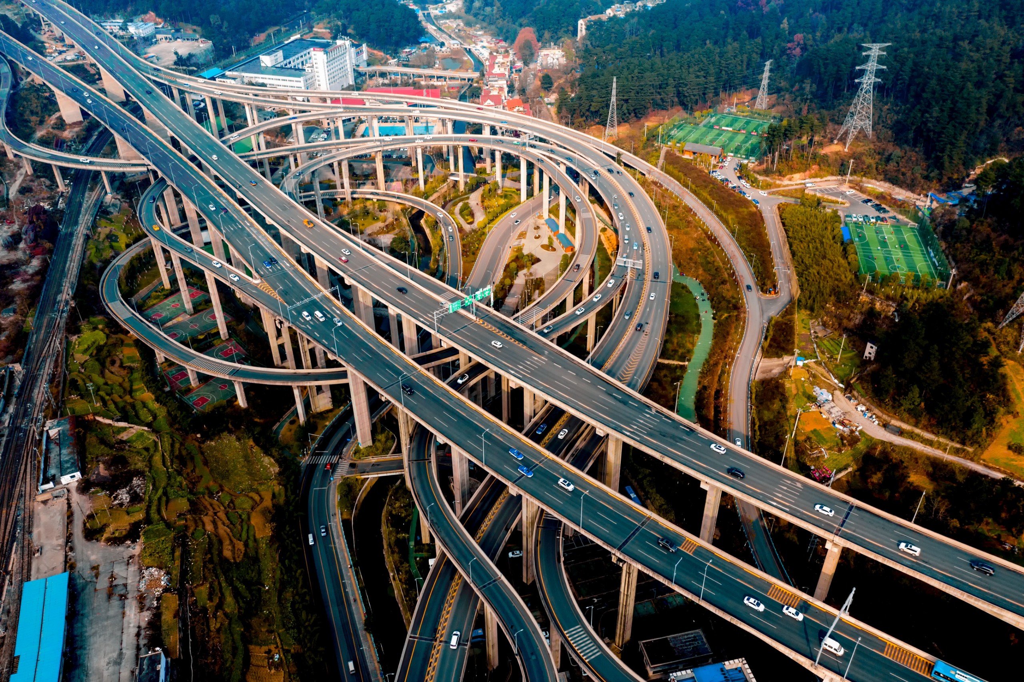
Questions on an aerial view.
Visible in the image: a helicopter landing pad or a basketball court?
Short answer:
basketball court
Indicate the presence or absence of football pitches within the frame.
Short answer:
Yes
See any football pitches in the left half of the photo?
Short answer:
No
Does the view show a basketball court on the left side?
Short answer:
Yes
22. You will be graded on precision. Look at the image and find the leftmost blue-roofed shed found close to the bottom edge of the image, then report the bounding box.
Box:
[10,572,77,682]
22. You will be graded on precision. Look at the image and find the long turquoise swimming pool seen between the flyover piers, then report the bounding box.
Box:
[356,122,440,139]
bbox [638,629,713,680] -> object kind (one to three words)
building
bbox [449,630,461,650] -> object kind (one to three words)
vehicle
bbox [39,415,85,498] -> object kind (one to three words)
building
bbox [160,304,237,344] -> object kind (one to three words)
basketball court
